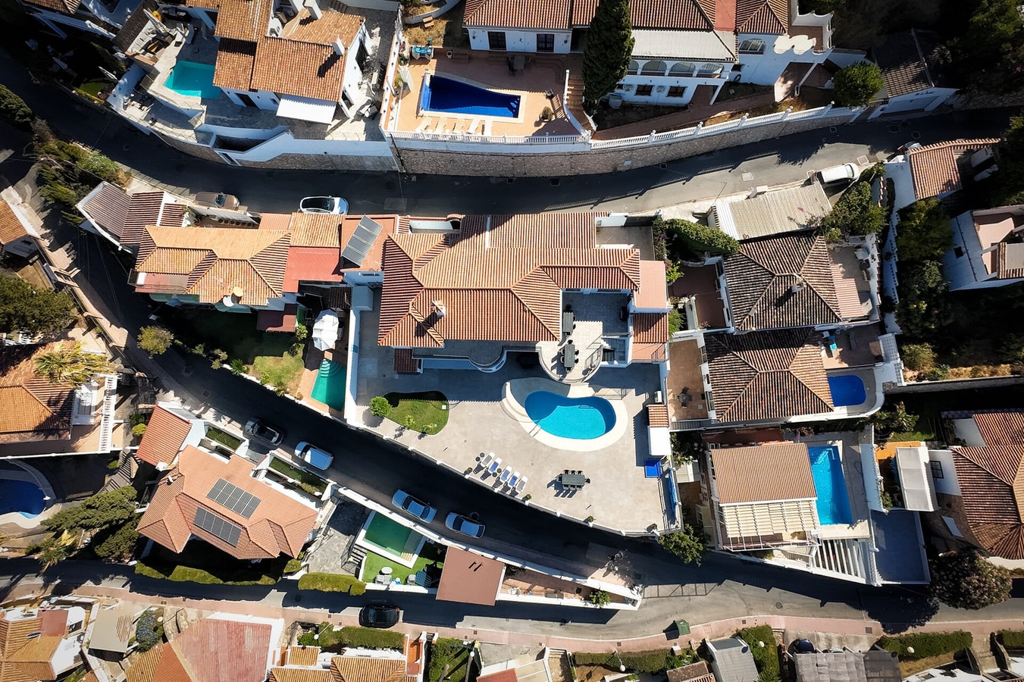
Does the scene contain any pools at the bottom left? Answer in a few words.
Yes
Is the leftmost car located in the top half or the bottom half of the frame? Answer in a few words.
top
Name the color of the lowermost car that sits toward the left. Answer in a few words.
black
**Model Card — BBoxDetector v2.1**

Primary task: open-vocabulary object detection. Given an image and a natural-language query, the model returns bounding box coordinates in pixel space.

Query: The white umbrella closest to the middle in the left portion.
[315,312,341,350]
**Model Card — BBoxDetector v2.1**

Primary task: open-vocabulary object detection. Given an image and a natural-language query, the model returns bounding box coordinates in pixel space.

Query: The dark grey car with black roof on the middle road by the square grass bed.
[243,416,287,451]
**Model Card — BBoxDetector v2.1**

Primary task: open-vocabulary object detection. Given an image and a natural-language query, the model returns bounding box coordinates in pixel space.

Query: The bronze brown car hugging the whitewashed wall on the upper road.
[193,189,242,212]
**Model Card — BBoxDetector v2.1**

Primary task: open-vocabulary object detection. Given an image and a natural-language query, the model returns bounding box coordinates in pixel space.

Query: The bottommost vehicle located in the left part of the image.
[358,603,402,628]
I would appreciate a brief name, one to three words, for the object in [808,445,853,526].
swimming pool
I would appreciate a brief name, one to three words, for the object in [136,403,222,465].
building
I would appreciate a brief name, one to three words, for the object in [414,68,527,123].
swimming pool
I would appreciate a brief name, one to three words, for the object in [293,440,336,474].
car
